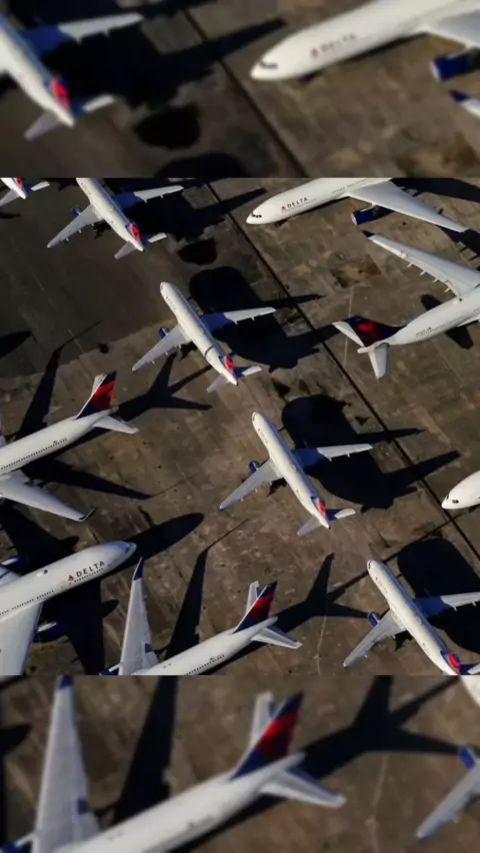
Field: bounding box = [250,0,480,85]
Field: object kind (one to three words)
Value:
airplane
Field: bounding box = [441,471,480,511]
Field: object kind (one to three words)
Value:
airplane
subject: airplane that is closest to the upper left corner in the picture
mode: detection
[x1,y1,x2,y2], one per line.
[0,2,140,137]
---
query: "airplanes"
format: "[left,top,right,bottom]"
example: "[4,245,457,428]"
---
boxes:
[0,350,138,523]
[248,73,480,234]
[250,0,480,85]
[1,561,304,761]
[132,280,278,393]
[0,542,135,716]
[46,164,186,259]
[0,125,71,204]
[66,696,343,853]
[330,233,480,376]
[221,412,372,535]
[0,2,140,137]
[345,561,480,691]
[441,471,480,511]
